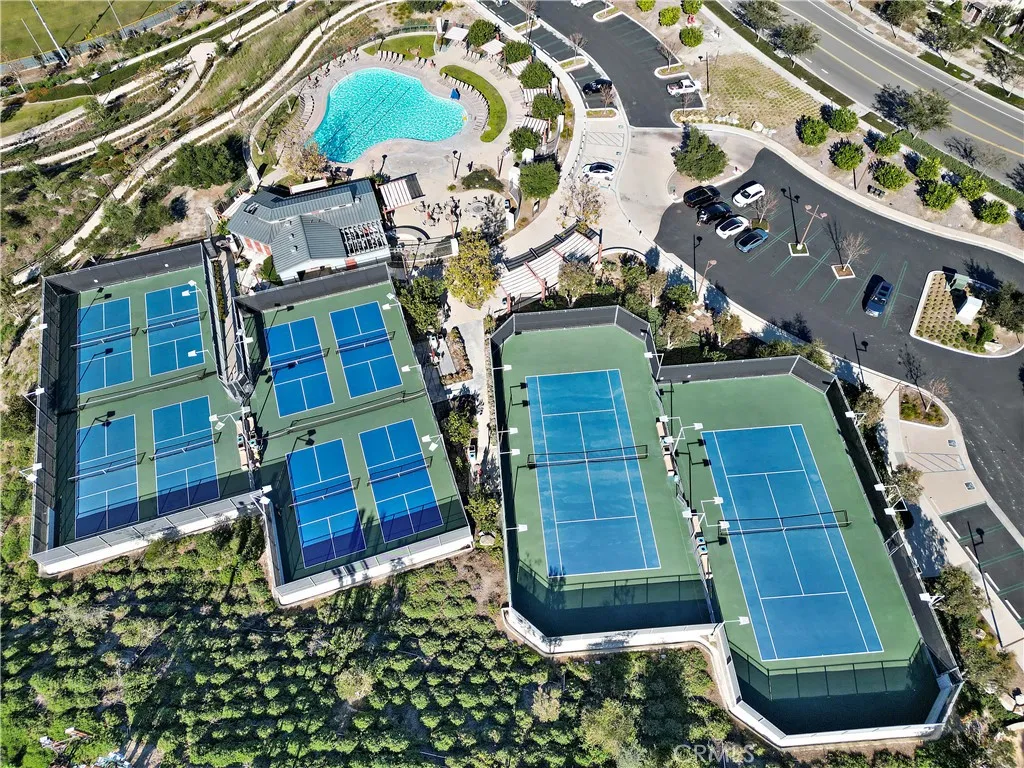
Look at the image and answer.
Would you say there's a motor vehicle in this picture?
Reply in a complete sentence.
Yes, the picture does show a motor vehicle.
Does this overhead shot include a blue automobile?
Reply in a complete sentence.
Yes, I can see a blue automobile in this picture.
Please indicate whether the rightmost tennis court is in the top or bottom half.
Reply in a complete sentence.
The bottom half of the photo is where the rightmost tennis court is.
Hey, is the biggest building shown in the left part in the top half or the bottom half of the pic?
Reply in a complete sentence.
The biggest building shown in the left part is in the top half of the image.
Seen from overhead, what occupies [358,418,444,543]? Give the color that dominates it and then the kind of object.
blue sports court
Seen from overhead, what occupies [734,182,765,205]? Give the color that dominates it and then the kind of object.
white car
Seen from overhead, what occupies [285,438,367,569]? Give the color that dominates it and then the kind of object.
blue sports court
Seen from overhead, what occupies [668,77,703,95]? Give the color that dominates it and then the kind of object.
white vehicle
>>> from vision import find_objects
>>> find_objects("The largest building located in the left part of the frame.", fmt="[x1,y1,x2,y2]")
[230,181,393,288]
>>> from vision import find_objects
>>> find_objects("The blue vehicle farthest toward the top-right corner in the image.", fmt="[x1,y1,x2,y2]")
[867,281,896,314]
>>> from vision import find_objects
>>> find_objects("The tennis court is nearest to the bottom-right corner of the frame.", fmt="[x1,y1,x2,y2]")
[659,373,942,737]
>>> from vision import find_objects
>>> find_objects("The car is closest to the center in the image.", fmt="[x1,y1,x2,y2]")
[583,164,617,180]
